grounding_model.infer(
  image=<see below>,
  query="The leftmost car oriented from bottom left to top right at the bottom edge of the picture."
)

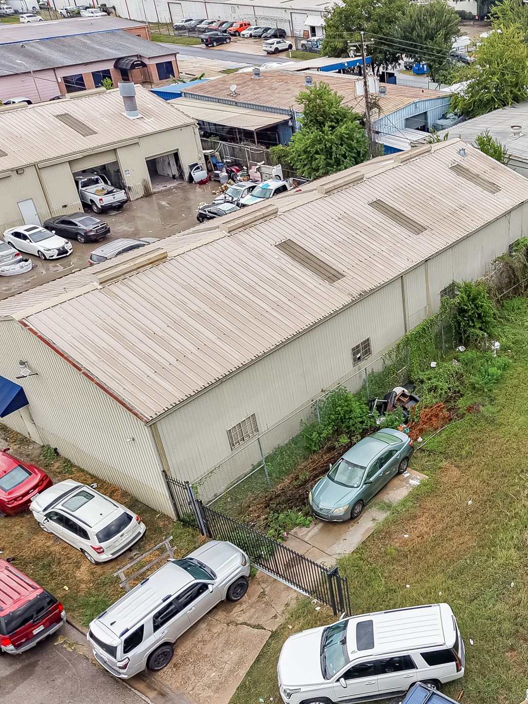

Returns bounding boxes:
[81,543,250,682]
